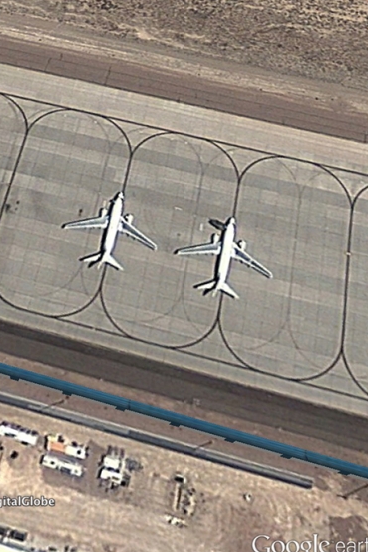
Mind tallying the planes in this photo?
2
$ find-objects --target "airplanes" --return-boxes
[63,190,157,271]
[178,217,276,300]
